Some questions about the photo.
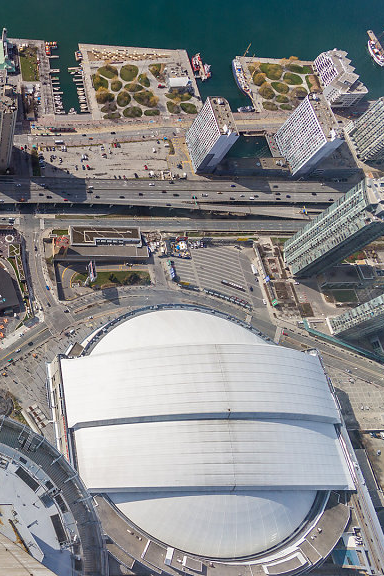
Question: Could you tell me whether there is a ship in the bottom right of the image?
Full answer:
No, I can find no ship in the bottom right of the image.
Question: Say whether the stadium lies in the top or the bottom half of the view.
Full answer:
The stadium is in the bottom half of the image.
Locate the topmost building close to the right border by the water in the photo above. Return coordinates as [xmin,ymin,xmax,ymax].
[297,49,368,117]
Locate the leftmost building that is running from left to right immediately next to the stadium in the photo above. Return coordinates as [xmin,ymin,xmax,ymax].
[53,225,149,262]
